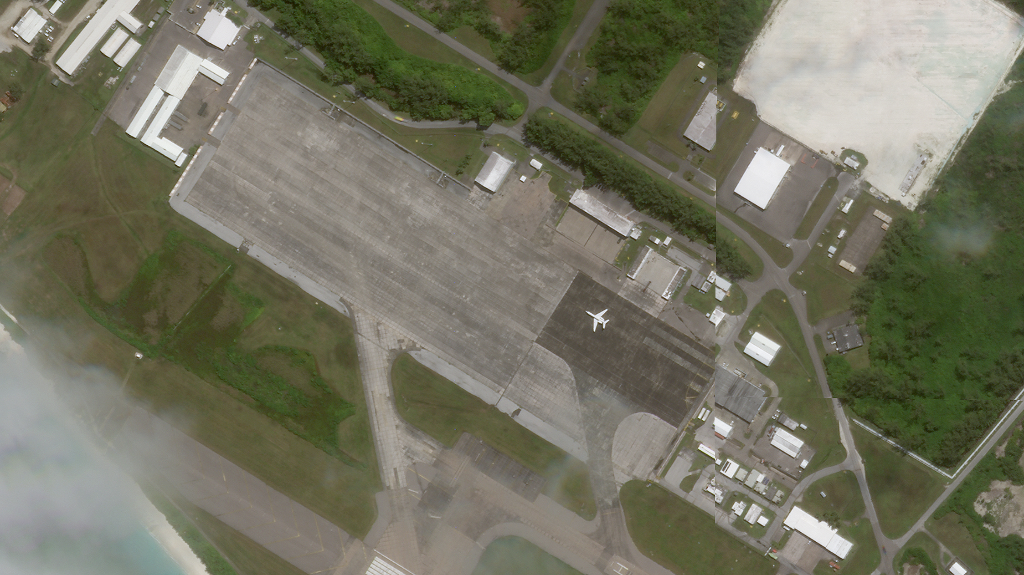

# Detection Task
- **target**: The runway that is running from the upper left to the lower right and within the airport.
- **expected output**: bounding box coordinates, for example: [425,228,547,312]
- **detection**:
[100,403,415,575]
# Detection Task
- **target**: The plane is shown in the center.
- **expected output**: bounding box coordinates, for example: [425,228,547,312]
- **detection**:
[586,310,609,332]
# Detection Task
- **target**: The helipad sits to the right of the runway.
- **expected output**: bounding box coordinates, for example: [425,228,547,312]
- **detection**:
[604,555,638,575]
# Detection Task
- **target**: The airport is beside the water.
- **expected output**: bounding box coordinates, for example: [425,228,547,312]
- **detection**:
[100,61,716,575]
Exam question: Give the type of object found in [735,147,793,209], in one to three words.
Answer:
hangar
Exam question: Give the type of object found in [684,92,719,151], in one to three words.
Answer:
building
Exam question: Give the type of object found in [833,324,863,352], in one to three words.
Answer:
house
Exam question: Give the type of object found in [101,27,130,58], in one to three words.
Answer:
shed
